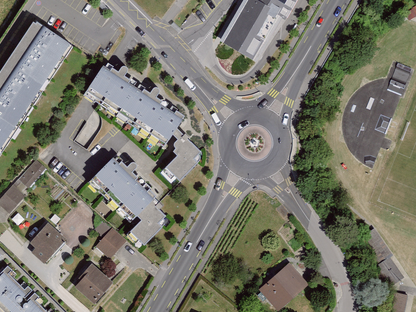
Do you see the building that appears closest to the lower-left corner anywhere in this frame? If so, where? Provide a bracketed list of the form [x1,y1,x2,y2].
[0,266,44,312]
